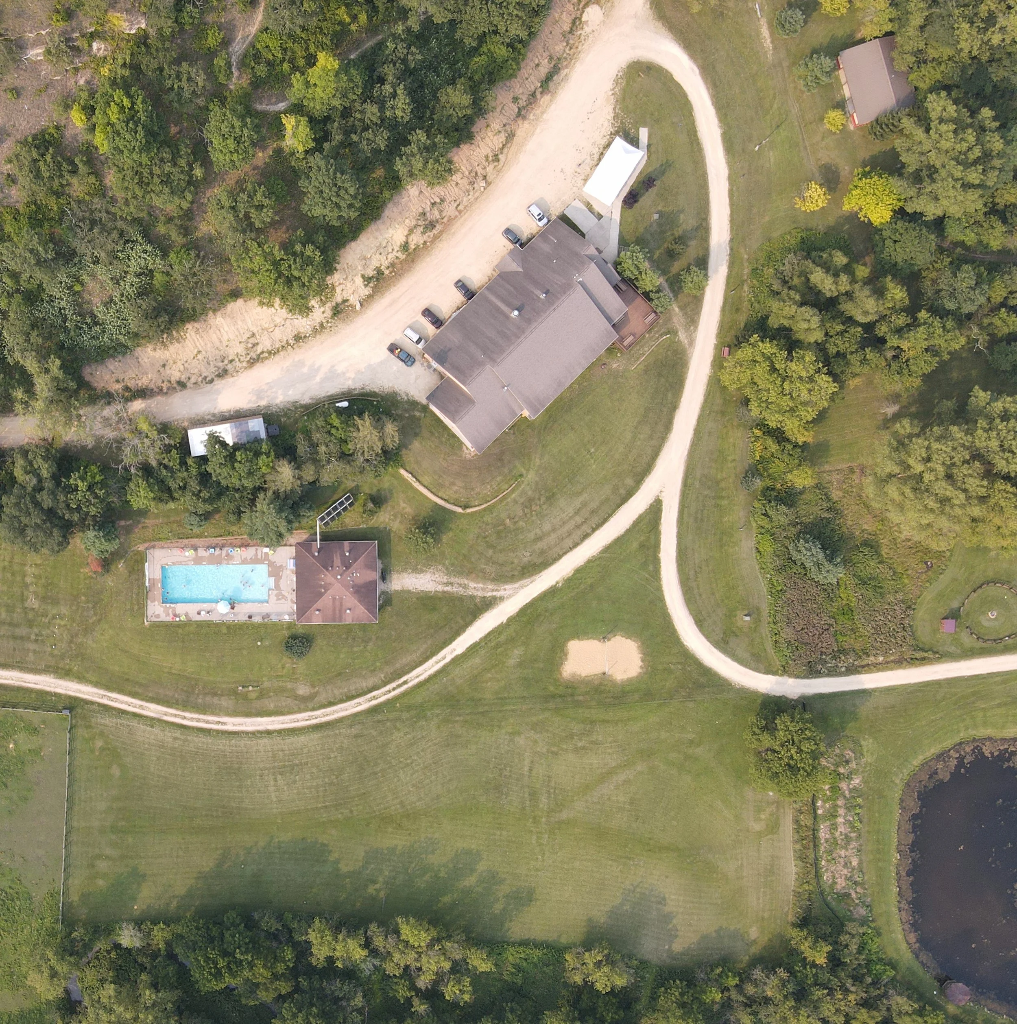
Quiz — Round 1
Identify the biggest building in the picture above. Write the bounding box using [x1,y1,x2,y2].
[422,216,628,454]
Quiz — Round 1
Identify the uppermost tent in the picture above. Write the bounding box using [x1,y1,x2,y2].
[580,136,644,207]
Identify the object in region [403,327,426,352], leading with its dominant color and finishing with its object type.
white car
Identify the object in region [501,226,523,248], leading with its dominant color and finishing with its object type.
gray car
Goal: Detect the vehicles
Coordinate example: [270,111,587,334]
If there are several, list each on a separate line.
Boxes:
[421,307,443,330]
[526,203,548,228]
[453,278,474,302]
[387,342,415,367]
[403,327,426,352]
[501,226,523,248]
